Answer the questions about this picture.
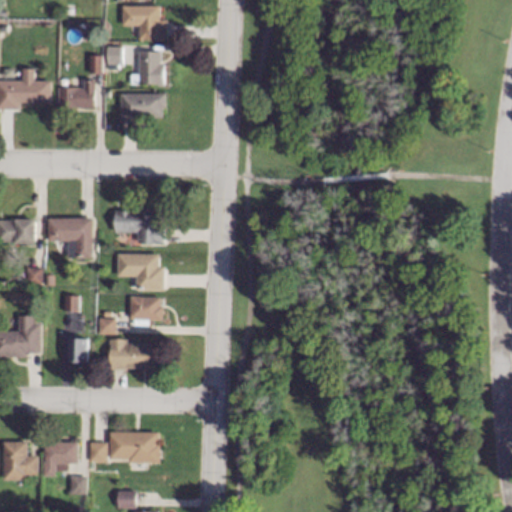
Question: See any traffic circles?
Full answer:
No, I can see no traffic circle in this picture.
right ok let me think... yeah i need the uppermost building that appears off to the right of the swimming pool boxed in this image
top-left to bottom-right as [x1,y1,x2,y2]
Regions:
[122,6,163,42]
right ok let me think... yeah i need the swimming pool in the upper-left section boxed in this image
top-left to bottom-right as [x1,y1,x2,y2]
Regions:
[66,28,86,45]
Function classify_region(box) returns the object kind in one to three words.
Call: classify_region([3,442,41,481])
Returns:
house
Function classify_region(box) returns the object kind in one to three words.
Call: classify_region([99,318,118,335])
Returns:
building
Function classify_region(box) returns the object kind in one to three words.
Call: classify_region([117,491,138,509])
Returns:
building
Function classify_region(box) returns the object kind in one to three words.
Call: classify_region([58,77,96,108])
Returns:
house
